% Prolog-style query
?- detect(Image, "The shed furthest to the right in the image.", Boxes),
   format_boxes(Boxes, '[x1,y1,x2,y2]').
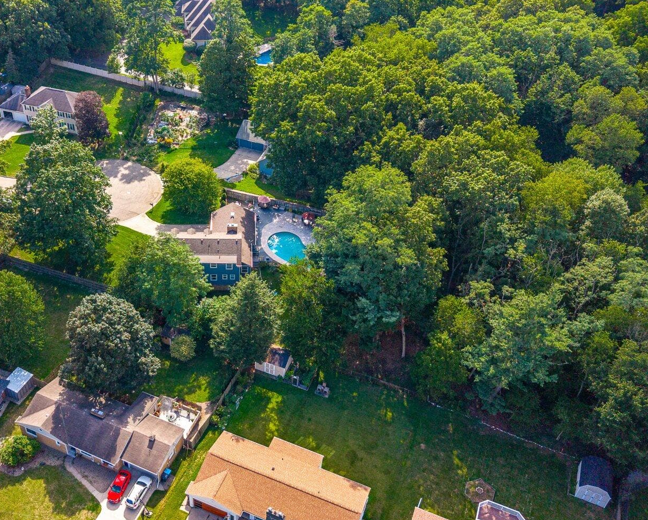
[577,456,613,513]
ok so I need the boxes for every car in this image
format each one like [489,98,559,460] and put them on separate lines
[106,467,138,506]
[124,473,157,512]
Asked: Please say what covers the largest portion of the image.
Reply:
trees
